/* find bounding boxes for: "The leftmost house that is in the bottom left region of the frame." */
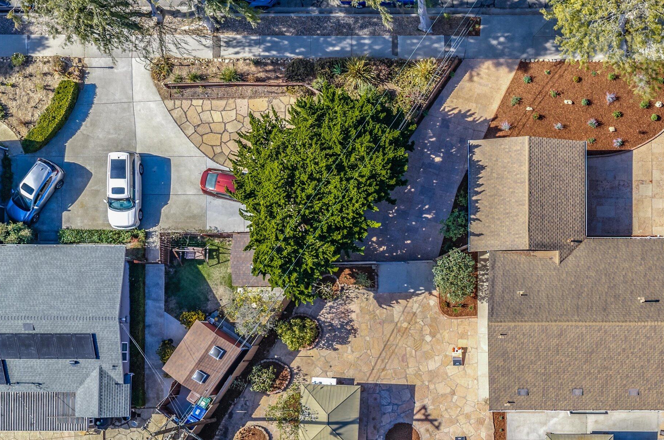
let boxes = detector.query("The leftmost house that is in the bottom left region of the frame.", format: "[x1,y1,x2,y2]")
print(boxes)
[0,244,135,418]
